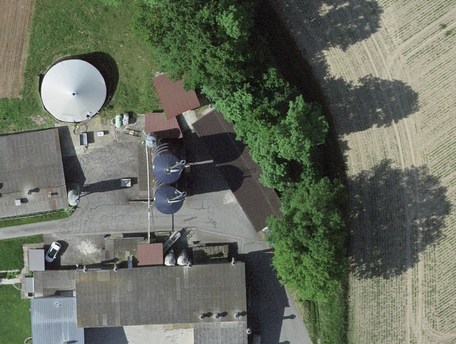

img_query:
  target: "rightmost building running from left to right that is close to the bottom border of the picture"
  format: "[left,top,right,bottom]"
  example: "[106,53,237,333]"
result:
[76,254,251,344]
